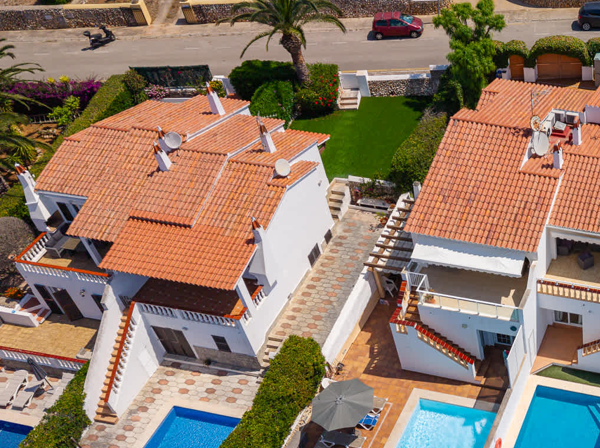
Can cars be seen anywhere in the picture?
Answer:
Yes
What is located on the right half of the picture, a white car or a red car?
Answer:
red car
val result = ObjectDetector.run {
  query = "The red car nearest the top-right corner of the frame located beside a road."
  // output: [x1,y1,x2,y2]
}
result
[371,11,423,41]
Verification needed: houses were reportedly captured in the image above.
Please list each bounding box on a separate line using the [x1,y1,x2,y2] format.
[389,74,600,390]
[0,88,340,420]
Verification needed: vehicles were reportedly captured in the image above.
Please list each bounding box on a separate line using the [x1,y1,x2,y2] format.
[371,11,423,41]
[579,6,600,35]
[81,21,118,42]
